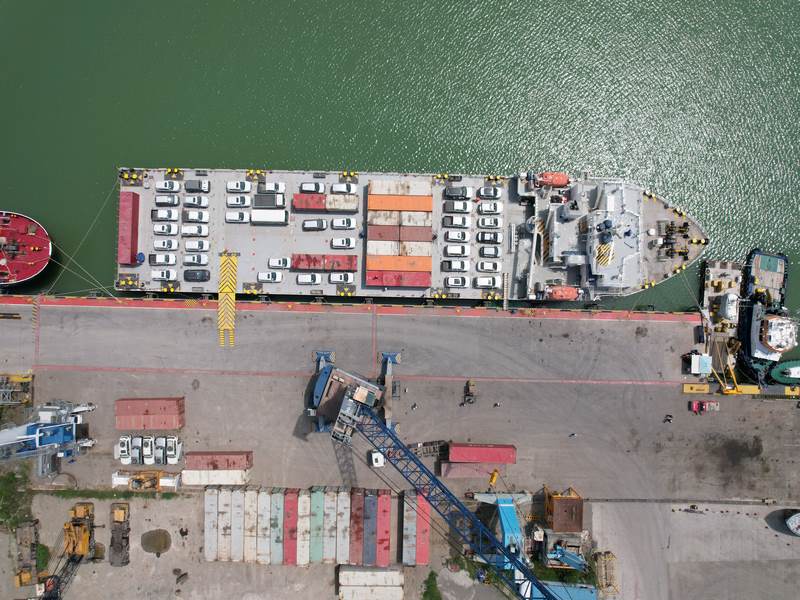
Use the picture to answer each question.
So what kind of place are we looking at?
port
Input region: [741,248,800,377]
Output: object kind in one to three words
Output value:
boat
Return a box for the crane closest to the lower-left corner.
[17,501,109,600]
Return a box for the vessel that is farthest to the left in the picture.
[0,212,61,283]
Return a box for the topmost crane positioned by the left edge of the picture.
[0,399,101,477]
